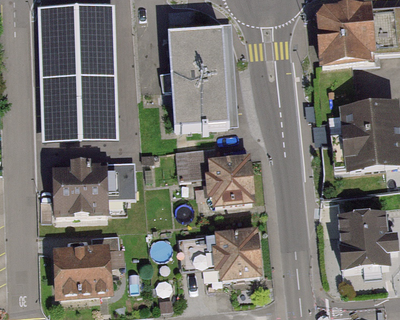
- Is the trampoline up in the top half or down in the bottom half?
bottom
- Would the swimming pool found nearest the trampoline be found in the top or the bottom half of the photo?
bottom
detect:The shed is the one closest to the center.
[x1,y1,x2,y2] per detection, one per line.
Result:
[176,151,204,186]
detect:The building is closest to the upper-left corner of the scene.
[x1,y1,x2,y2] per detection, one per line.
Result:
[39,4,118,145]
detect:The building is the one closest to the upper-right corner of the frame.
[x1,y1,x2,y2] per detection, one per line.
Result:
[316,0,400,72]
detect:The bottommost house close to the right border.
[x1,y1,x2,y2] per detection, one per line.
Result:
[338,212,399,282]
